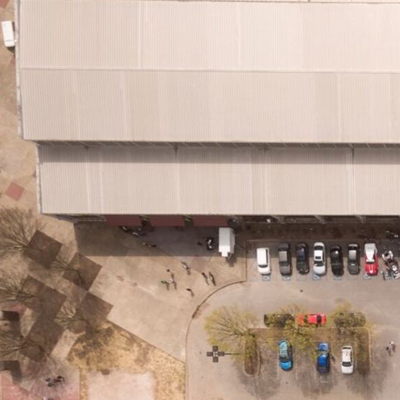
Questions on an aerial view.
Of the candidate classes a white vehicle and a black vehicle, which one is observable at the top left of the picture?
white vehicle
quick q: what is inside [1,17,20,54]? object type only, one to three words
vehicle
